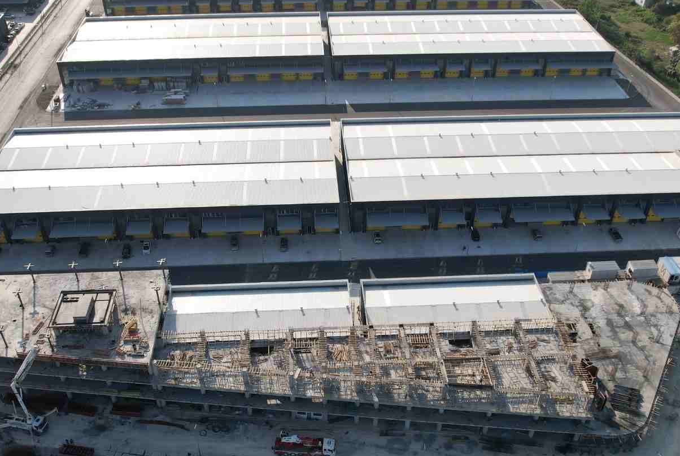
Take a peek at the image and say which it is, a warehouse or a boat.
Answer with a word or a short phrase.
warehouse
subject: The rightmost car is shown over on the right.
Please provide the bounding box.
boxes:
[606,228,626,241]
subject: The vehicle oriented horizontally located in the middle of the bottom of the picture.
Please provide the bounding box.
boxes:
[272,434,340,456]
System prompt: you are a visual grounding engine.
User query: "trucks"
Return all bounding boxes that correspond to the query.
[0,339,54,439]
[272,434,340,456]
